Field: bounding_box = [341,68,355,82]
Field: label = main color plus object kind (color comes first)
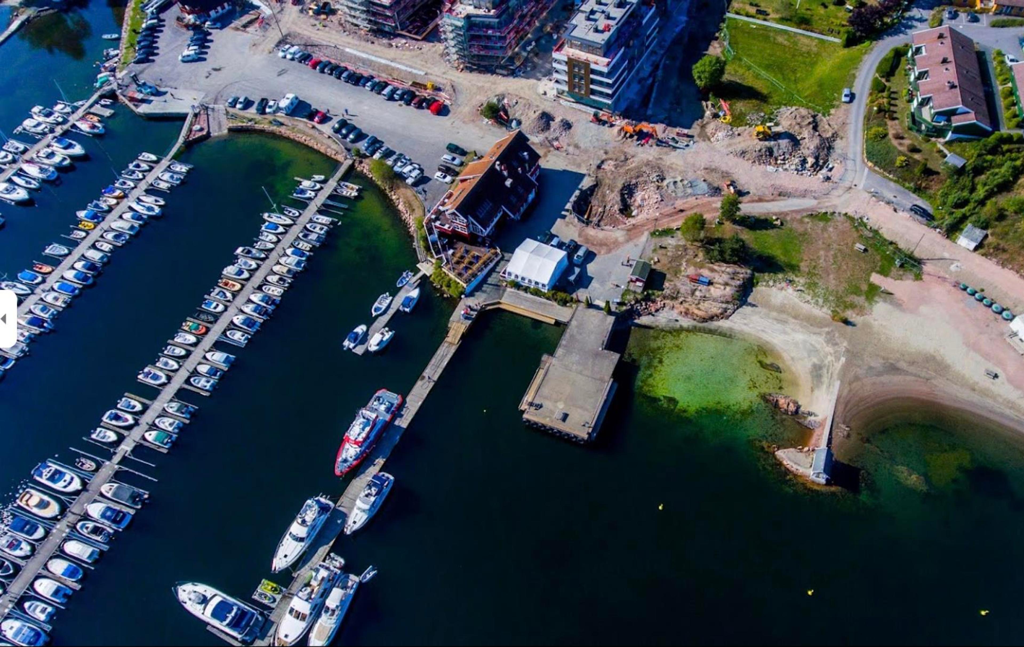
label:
blue car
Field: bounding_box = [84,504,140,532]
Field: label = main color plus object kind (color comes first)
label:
blue boat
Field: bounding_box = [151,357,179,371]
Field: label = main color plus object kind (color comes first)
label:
white boat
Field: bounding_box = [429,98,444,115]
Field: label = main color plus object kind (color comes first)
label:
red car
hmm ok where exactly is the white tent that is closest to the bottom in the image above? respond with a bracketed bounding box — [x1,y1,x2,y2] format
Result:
[1002,315,1024,358]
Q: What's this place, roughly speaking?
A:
port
